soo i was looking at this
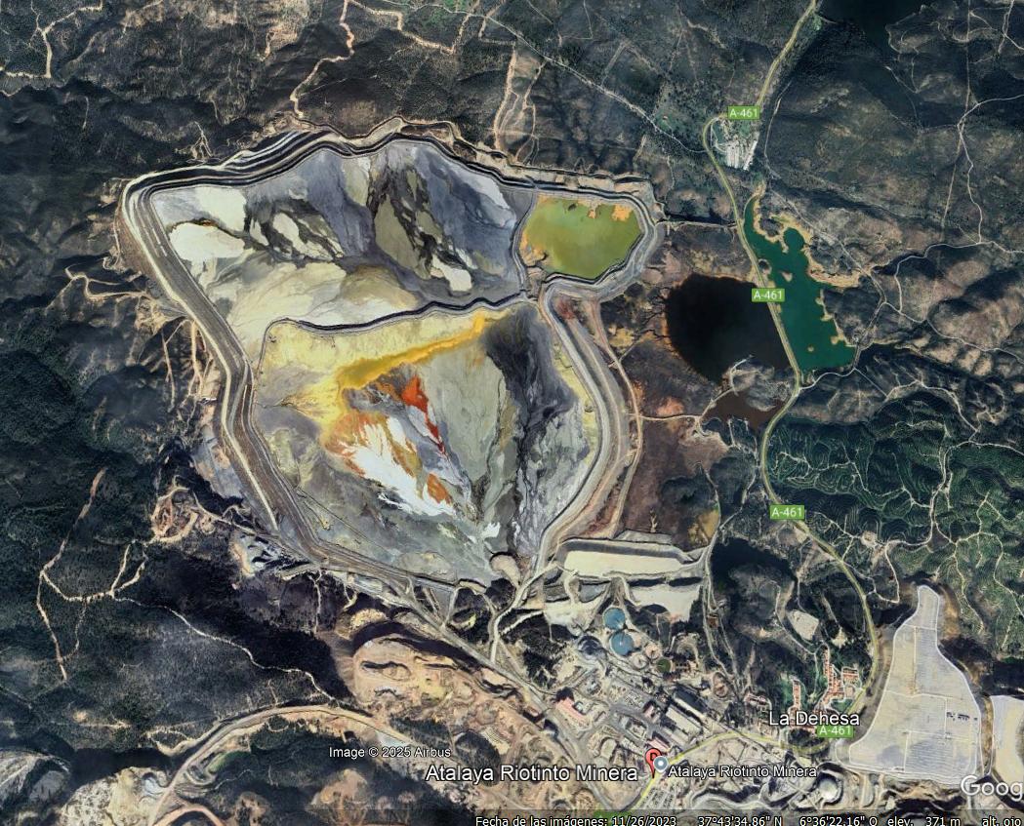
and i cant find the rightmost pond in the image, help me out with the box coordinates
[745,202,852,367]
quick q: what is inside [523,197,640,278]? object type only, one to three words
pond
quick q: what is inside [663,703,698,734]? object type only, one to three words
building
